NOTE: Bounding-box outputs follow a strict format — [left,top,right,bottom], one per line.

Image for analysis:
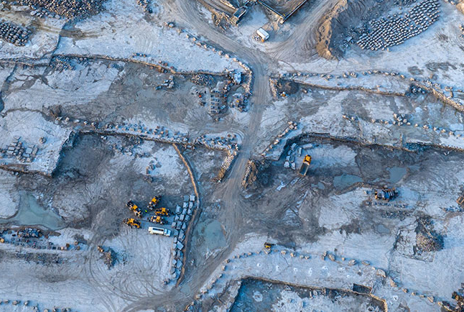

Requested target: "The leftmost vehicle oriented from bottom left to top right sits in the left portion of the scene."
[147,191,162,210]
